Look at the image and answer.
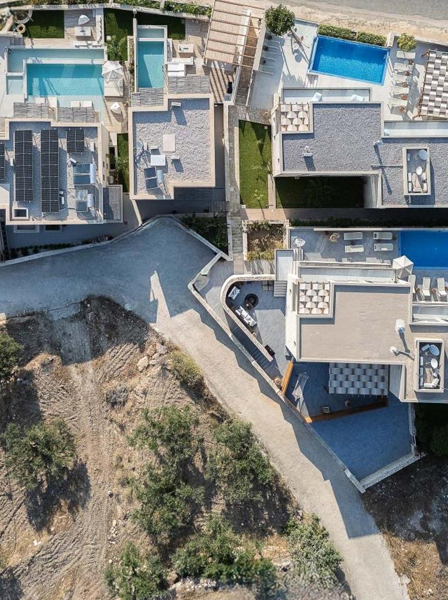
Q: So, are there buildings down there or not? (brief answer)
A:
Yes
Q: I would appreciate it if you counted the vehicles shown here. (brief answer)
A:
0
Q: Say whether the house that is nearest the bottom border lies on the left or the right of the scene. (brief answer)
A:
right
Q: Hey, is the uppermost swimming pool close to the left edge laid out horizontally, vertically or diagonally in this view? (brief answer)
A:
horizontally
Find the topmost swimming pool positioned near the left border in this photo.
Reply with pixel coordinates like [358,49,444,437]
[6,48,106,75]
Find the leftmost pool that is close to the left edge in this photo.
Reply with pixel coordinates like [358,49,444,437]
[6,76,25,95]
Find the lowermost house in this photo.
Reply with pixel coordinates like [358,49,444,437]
[239,249,448,402]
